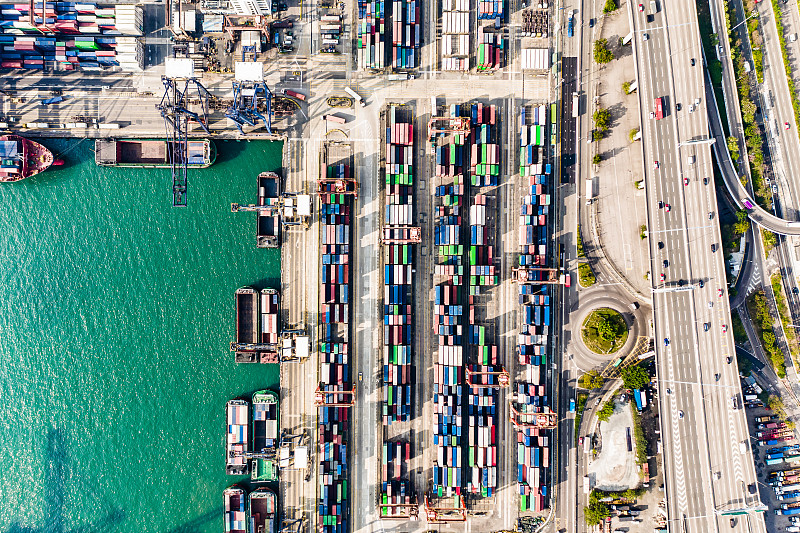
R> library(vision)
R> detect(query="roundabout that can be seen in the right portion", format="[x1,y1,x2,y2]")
[566,292,645,370]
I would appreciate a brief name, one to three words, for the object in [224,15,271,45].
container crane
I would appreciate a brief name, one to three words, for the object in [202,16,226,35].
shed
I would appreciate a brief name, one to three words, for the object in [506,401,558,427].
container crane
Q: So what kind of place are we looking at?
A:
port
